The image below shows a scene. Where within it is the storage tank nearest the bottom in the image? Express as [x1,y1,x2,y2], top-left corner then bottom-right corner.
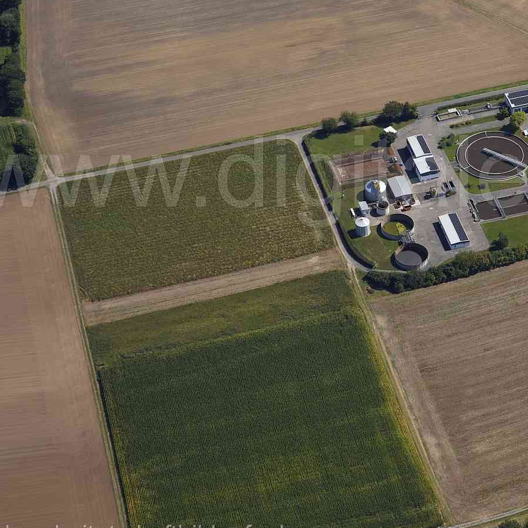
[394,242,428,271]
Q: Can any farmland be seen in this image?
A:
Yes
